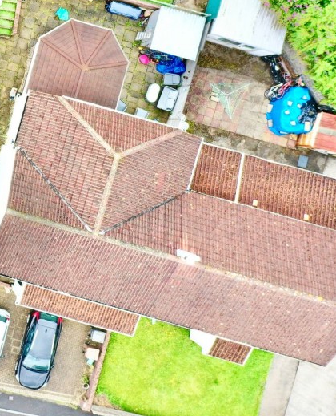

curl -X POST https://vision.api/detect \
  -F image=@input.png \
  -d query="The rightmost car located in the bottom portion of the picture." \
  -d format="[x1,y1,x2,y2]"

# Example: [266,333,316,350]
[16,310,68,395]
